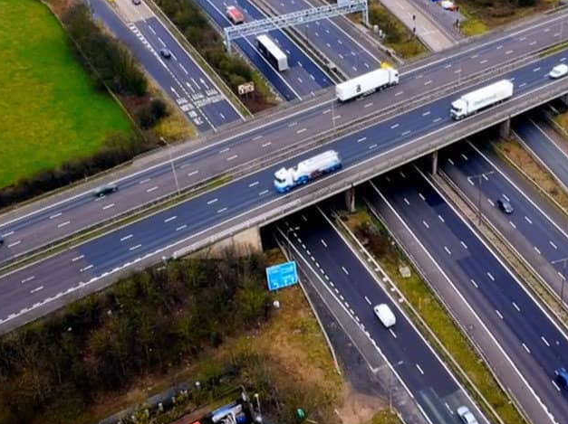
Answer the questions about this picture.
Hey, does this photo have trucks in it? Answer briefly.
Yes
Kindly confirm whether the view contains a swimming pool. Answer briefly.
No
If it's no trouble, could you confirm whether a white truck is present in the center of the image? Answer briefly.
Yes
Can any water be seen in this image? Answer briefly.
No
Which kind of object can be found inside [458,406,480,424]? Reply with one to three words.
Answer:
car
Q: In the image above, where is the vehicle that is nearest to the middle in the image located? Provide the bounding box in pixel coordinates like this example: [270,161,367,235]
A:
[274,150,342,193]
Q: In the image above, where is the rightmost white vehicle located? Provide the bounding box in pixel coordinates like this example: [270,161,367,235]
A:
[550,62,567,75]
